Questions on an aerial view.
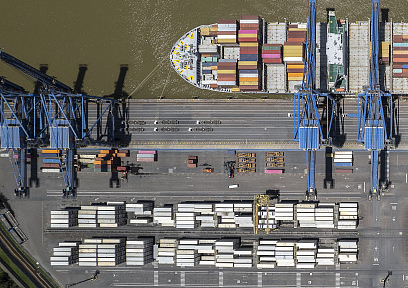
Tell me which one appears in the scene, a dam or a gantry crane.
gantry crane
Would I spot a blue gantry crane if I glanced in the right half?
Yes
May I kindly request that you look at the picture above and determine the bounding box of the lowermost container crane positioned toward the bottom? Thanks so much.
[253,190,277,236]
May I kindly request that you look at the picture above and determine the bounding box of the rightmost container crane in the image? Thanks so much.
[356,0,401,201]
